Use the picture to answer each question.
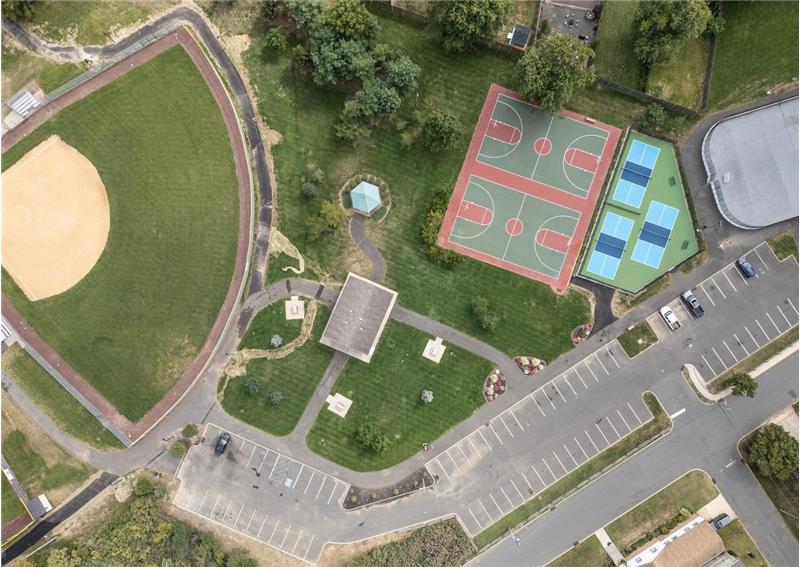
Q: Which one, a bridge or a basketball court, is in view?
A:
basketball court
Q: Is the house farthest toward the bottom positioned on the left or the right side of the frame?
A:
right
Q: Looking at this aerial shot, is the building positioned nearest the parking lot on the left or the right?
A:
right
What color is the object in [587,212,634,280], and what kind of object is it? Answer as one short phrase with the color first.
blue sports court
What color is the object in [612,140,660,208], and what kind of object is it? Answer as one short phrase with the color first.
blue sports court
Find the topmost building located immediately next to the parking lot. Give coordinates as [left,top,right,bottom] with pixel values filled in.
[701,93,800,230]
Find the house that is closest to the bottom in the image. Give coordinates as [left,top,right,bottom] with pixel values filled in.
[625,517,730,567]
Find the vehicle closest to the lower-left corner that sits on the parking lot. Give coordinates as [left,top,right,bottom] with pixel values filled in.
[215,431,230,455]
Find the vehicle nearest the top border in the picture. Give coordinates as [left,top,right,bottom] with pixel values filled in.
[737,257,755,279]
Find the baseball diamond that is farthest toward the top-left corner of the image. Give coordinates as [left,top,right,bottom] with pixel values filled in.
[0,26,252,446]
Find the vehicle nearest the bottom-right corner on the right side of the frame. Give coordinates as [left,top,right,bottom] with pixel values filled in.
[710,512,734,528]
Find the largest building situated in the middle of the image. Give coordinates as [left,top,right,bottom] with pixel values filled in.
[320,273,398,362]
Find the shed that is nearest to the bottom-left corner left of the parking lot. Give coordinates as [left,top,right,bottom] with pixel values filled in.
[24,492,55,519]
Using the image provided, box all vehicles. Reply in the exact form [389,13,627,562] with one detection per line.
[737,257,755,279]
[710,512,734,528]
[681,290,704,317]
[215,431,230,455]
[659,304,682,331]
